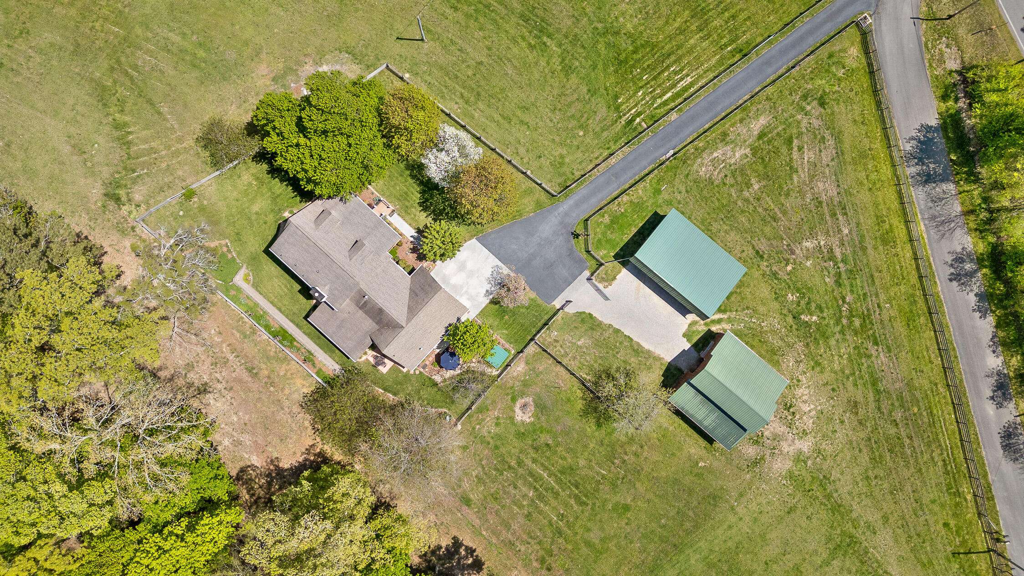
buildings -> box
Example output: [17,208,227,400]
[269,180,469,372]
[668,330,789,451]
[629,208,747,319]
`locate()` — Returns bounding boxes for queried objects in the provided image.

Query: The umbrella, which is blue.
[441,351,459,368]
